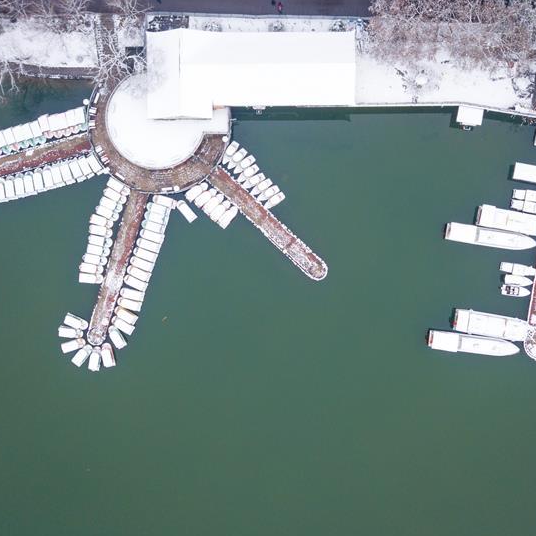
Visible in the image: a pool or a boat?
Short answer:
boat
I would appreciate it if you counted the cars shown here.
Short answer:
zero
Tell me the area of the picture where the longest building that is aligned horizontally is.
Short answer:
top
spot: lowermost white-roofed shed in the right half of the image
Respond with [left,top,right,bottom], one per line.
[455,104,484,129]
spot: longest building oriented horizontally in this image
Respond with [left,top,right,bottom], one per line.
[146,29,356,118]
